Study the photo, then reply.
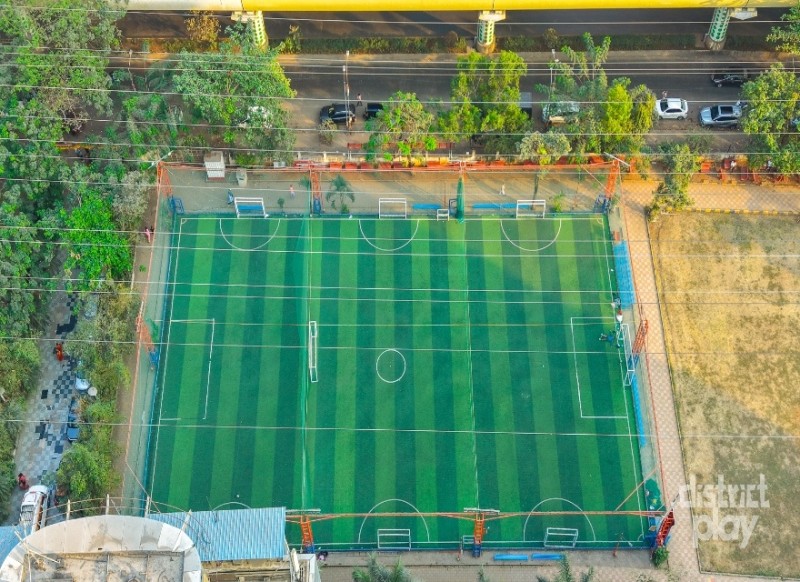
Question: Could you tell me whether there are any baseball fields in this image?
No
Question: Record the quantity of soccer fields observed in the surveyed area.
one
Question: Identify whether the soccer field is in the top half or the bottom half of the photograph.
bottom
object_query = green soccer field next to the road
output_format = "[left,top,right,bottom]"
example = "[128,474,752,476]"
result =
[139,211,655,552]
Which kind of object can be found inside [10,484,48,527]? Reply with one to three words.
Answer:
car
